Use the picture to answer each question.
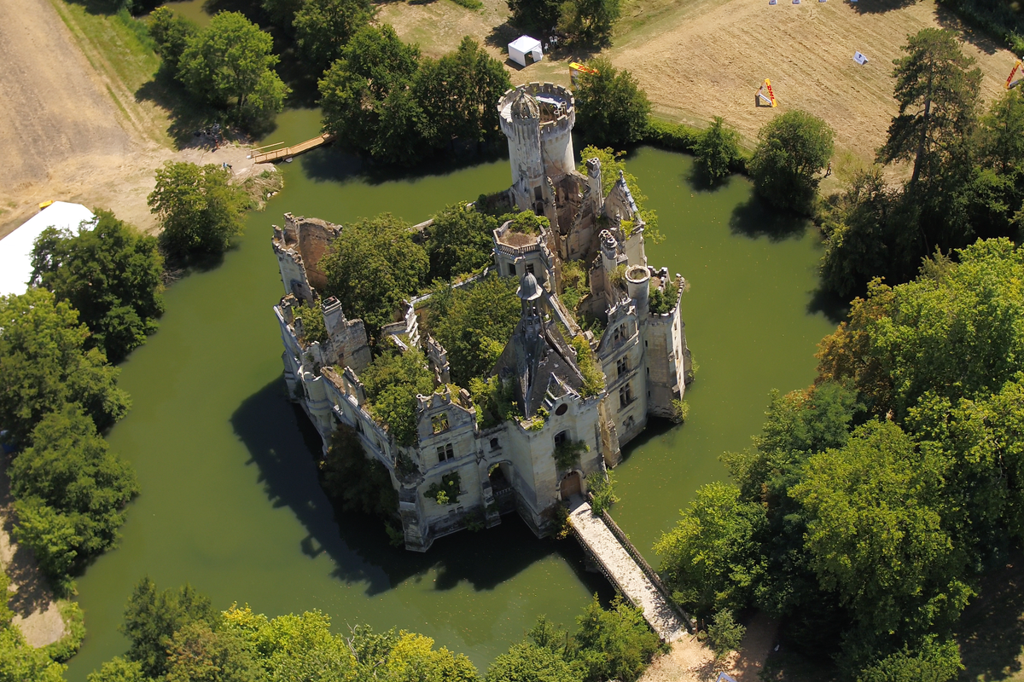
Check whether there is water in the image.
Yes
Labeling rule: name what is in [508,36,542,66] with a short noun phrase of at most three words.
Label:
tent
